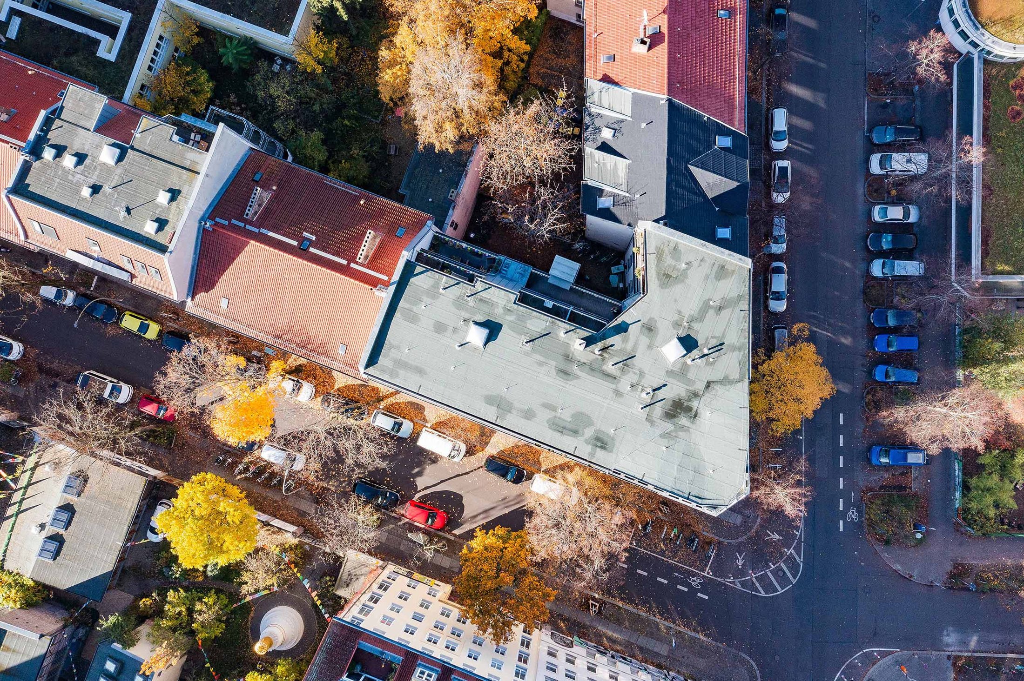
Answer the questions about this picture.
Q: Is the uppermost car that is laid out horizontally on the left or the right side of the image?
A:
right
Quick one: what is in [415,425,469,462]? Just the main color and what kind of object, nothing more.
white vehicle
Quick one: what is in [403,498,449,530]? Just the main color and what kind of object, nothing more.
red car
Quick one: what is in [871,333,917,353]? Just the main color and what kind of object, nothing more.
blue car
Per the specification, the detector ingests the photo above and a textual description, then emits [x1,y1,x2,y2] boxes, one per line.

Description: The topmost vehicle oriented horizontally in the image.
[867,122,921,146]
